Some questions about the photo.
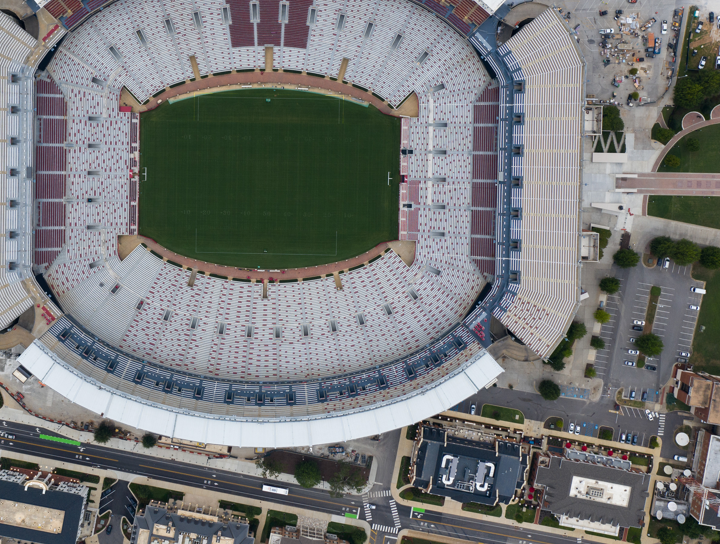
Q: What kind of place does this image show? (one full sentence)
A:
This image shows a sports ground.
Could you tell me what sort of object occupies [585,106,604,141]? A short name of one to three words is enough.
building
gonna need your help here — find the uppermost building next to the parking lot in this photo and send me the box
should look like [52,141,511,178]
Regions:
[583,232,600,267]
